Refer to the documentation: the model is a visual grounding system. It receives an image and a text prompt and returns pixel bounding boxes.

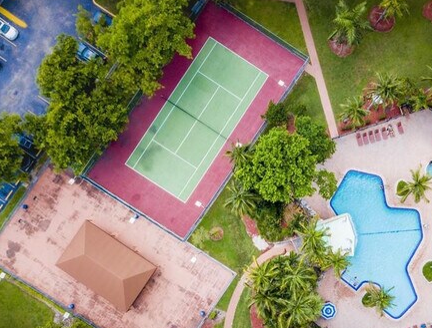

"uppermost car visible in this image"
[86,3,106,20]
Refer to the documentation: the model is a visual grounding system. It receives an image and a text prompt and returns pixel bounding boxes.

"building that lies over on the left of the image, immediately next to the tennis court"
[56,220,157,313]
